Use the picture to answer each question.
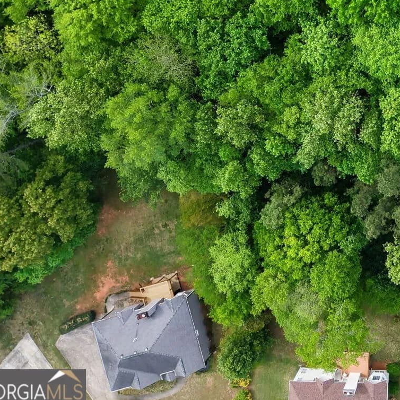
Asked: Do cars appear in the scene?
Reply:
No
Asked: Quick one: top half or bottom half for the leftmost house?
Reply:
bottom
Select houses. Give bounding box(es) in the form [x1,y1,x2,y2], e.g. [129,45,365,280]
[91,291,210,392]
[289,359,393,400]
